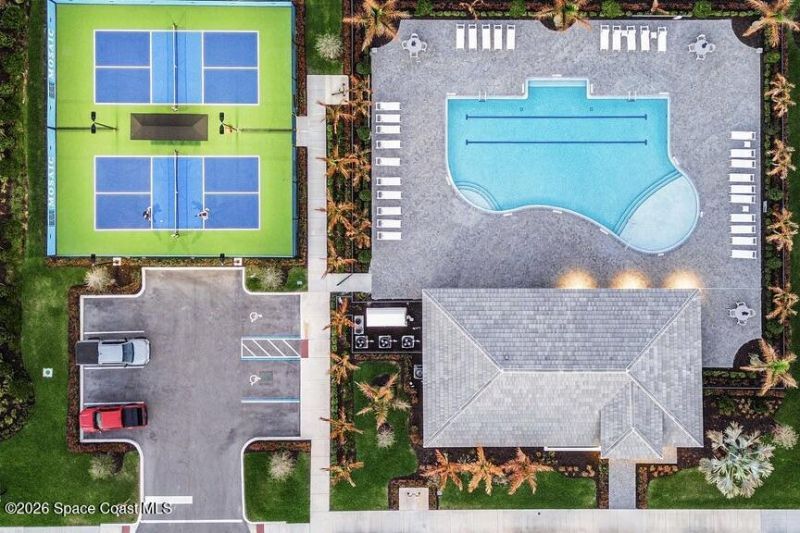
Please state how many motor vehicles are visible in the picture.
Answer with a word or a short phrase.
two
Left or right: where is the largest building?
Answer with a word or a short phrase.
right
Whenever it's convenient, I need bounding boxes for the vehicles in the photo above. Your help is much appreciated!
[76,338,151,368]
[79,405,149,435]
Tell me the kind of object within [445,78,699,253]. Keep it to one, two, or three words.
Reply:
swimming pool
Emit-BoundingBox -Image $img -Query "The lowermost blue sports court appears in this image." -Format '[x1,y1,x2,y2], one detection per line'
[94,156,259,231]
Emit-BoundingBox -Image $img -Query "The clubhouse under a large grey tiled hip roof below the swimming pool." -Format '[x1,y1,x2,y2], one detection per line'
[422,288,705,460]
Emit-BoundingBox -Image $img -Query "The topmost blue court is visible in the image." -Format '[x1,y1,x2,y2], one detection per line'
[94,30,259,104]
